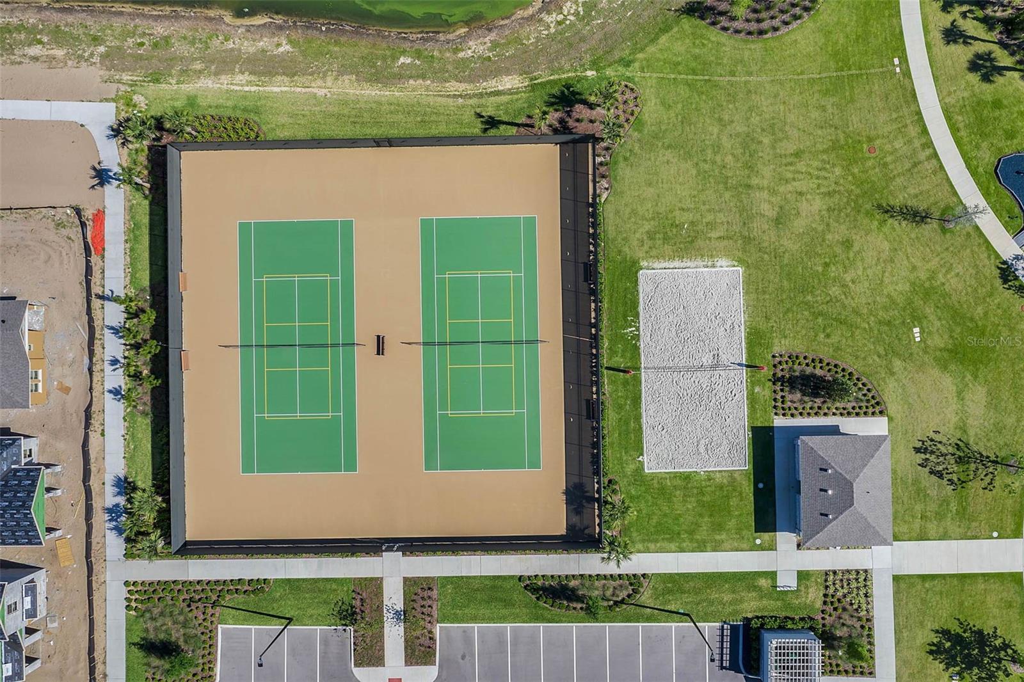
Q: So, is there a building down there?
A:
Yes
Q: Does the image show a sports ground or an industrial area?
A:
sports ground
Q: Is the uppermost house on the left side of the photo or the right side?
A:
left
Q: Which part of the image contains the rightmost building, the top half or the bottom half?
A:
bottom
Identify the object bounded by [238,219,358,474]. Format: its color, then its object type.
green tennis court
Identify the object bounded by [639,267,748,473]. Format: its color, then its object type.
white sports court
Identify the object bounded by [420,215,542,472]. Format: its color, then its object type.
green tennis court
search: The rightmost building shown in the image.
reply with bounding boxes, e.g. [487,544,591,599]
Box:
[792,435,893,549]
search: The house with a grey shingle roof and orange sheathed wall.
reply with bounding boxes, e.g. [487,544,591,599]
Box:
[0,300,46,408]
